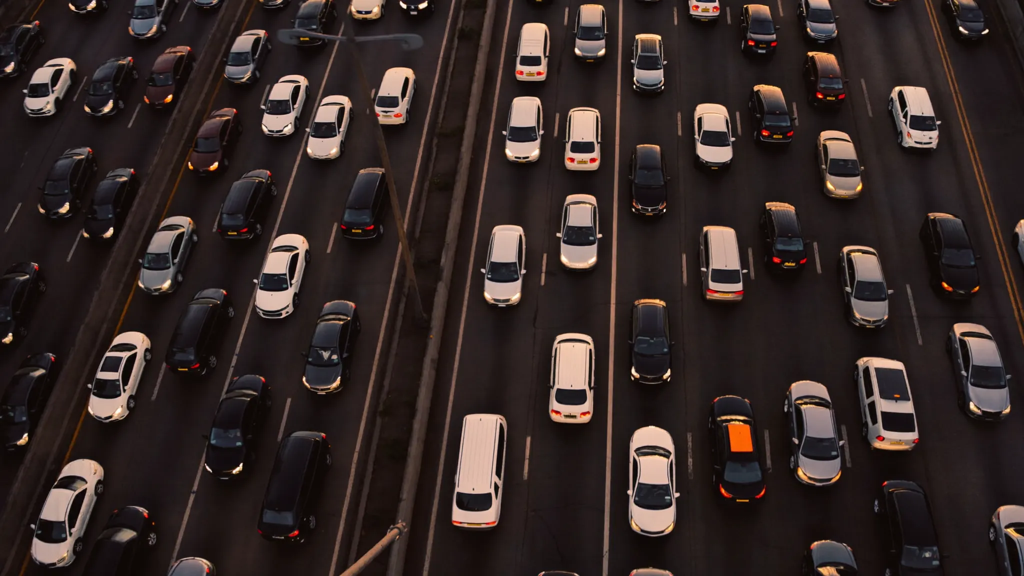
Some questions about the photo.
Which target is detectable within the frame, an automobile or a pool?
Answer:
automobile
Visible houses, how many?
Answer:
0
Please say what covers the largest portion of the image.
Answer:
paved ground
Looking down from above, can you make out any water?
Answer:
No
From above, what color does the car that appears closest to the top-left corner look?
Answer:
black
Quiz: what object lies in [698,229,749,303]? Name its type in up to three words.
vehicle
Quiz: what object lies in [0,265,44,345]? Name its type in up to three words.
car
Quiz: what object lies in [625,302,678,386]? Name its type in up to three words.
car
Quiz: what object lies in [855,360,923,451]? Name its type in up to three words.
vehicle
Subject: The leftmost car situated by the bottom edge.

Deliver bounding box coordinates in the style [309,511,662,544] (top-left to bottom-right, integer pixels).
[30,460,107,569]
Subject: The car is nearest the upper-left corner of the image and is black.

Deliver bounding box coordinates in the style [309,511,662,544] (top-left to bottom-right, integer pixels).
[0,24,39,76]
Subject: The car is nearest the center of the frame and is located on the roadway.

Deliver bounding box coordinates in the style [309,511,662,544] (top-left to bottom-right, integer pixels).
[480,229,527,306]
